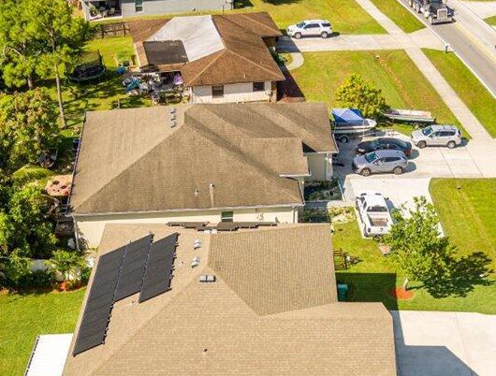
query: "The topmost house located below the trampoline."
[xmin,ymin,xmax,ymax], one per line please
[70,103,342,247]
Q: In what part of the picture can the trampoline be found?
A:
top left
